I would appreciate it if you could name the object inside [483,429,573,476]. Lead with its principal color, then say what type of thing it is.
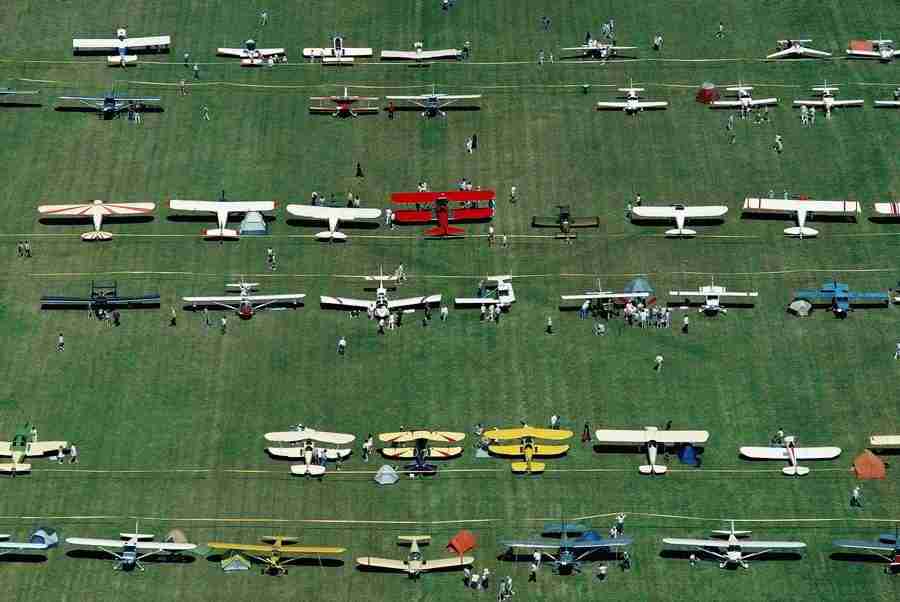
yellow airplane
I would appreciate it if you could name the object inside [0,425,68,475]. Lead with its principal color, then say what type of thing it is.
white airplane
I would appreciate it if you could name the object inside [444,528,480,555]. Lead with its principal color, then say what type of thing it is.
red tent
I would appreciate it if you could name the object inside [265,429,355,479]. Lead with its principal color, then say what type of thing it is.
white airplane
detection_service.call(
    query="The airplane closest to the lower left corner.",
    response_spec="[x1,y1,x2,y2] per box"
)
[0,535,47,572]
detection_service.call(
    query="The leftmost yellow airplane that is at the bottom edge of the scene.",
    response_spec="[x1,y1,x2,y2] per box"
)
[207,526,345,575]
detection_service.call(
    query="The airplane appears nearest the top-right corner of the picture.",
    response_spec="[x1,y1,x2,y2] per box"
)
[846,32,900,62]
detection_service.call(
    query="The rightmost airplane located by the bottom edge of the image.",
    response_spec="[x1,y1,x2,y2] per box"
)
[832,526,900,574]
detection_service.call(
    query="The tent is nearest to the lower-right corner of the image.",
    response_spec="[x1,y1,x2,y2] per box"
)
[854,454,884,478]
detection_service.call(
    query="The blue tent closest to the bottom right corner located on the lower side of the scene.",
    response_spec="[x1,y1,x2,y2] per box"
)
[679,445,699,464]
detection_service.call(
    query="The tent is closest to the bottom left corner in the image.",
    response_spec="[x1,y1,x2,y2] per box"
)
[26,529,60,548]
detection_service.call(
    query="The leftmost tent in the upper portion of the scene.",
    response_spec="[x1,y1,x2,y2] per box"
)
[240,212,266,235]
